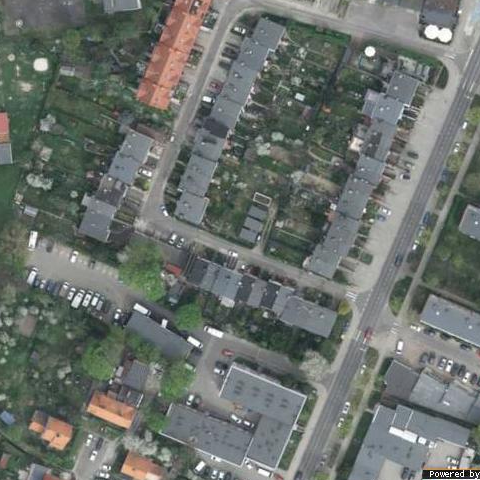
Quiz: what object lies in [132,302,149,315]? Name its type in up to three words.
vehicle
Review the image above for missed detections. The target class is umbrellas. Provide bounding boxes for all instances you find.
[425,26,439,40]
[365,47,376,58]
[437,28,452,43]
